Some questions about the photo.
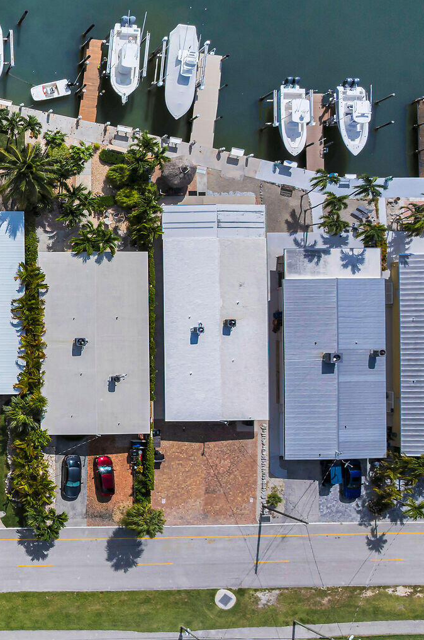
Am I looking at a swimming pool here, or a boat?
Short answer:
boat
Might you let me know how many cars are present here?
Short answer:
3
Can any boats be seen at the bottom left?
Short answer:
No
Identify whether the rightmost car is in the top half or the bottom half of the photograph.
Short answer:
bottom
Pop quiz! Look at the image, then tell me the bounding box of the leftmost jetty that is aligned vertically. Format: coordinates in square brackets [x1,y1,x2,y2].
[78,39,103,123]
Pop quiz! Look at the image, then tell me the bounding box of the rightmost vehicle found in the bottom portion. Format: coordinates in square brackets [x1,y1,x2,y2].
[338,460,364,499]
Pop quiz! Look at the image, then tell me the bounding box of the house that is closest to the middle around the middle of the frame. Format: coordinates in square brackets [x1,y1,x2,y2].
[157,205,269,422]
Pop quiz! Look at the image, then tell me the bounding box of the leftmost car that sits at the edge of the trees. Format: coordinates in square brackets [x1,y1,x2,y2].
[59,454,83,498]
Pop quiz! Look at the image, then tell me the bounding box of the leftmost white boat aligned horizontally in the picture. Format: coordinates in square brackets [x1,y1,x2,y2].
[32,79,77,99]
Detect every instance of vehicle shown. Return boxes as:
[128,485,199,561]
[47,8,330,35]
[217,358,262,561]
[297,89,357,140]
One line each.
[338,460,364,499]
[320,463,343,485]
[91,454,116,496]
[59,454,83,498]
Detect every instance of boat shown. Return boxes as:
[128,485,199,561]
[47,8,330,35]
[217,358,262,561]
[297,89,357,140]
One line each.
[164,25,202,121]
[278,78,339,156]
[110,18,165,105]
[32,79,77,99]
[335,78,402,156]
